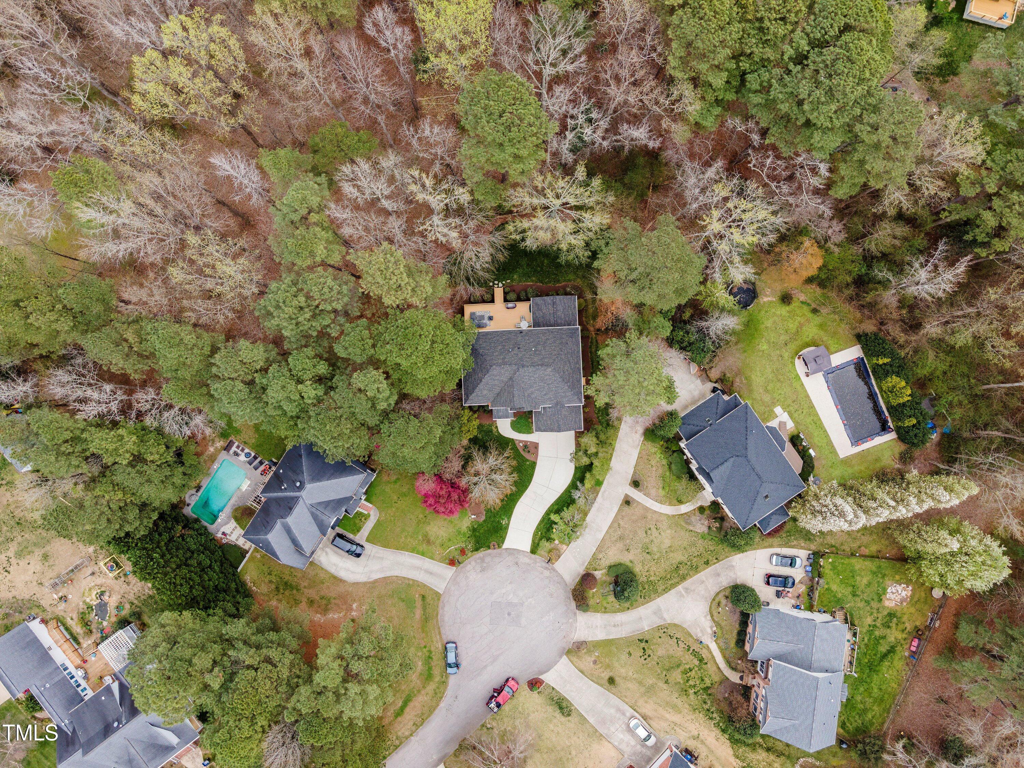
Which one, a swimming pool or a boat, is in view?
swimming pool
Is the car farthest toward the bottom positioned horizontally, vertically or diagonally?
diagonally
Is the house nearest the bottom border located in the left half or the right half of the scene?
right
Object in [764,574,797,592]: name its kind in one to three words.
car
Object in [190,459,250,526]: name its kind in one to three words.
swimming pool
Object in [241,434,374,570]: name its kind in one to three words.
house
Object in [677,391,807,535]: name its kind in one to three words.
house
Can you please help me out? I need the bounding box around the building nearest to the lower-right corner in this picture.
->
[738,599,852,753]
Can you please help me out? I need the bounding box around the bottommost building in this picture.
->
[638,734,701,768]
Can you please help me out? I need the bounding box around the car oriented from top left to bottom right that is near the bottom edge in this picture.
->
[626,717,655,748]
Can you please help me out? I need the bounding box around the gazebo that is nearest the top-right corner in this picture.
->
[796,346,832,375]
